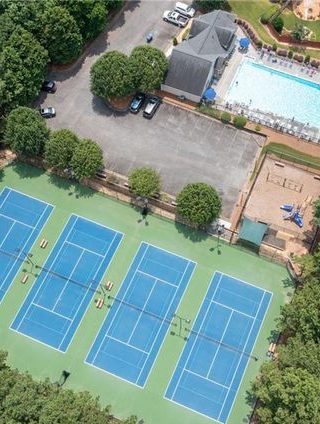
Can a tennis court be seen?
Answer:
Yes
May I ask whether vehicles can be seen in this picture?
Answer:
Yes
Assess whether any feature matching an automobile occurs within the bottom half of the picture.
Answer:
No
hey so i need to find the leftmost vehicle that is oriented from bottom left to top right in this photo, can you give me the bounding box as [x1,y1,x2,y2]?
[128,91,144,112]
